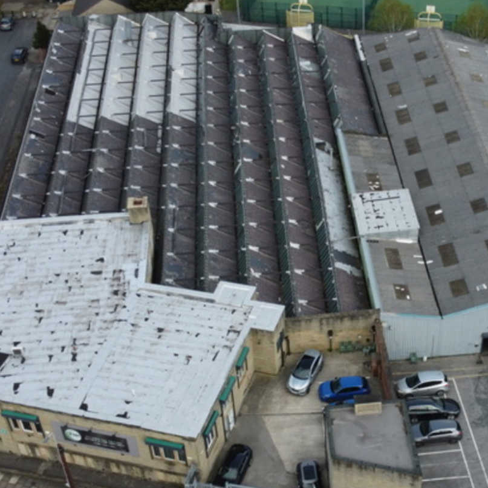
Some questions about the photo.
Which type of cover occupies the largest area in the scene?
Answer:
buildings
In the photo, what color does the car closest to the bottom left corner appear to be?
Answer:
black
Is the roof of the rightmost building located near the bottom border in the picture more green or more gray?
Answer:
gray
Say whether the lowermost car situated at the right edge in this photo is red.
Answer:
No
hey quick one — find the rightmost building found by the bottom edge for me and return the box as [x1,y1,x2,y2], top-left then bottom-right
[324,399,423,488]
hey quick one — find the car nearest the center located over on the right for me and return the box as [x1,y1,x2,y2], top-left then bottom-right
[286,347,324,392]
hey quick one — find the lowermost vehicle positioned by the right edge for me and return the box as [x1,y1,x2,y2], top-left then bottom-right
[413,423,466,453]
